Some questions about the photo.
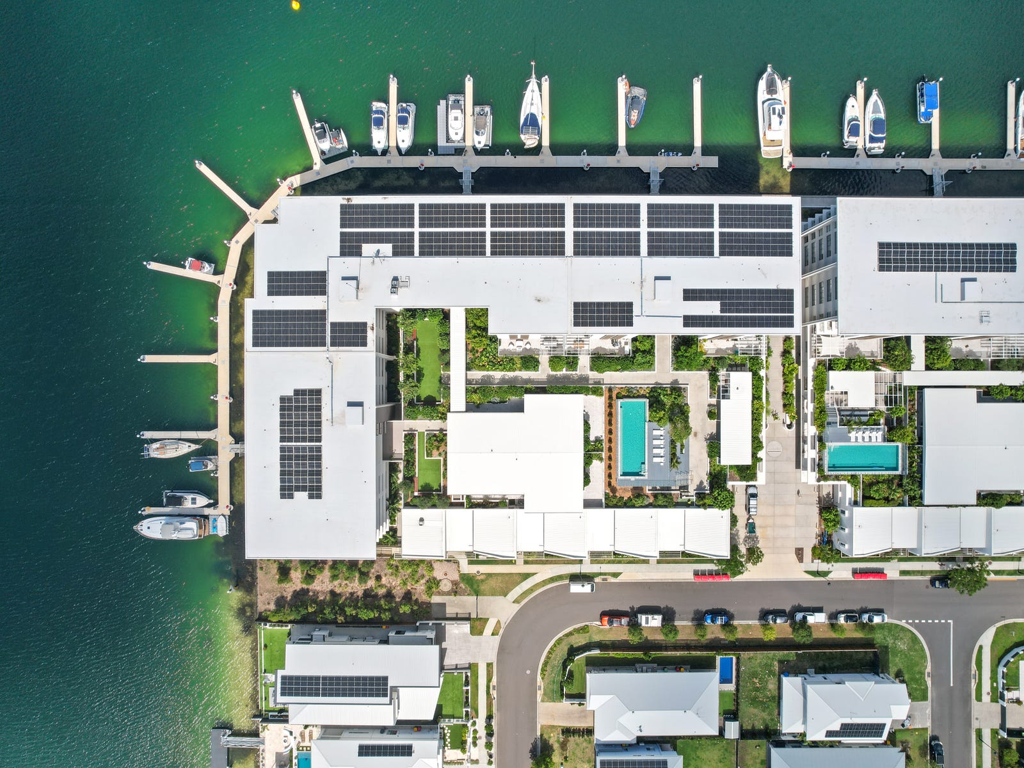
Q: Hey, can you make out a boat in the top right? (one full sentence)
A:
Yes, a boat shows up in the top right.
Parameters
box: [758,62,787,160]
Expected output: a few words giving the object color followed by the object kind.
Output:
white boat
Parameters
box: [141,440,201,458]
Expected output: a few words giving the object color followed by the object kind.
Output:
white boat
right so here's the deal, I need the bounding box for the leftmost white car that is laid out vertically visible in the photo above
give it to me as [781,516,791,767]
[746,487,760,516]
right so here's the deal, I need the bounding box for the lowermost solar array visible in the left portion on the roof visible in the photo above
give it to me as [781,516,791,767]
[358,744,412,757]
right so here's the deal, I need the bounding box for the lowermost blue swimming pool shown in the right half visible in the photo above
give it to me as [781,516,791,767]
[717,654,734,686]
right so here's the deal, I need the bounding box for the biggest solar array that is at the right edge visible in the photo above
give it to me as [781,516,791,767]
[878,242,1016,272]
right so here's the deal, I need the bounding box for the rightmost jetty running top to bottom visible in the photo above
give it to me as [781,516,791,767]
[1002,80,1018,159]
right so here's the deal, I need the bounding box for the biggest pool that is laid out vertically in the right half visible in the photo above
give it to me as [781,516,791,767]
[616,398,649,479]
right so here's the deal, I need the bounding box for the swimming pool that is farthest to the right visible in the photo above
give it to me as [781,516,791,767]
[823,442,902,474]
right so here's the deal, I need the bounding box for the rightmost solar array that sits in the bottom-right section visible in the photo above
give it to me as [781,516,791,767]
[823,725,890,739]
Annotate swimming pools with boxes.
[296,748,311,768]
[717,654,734,686]
[823,442,902,474]
[616,398,649,479]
